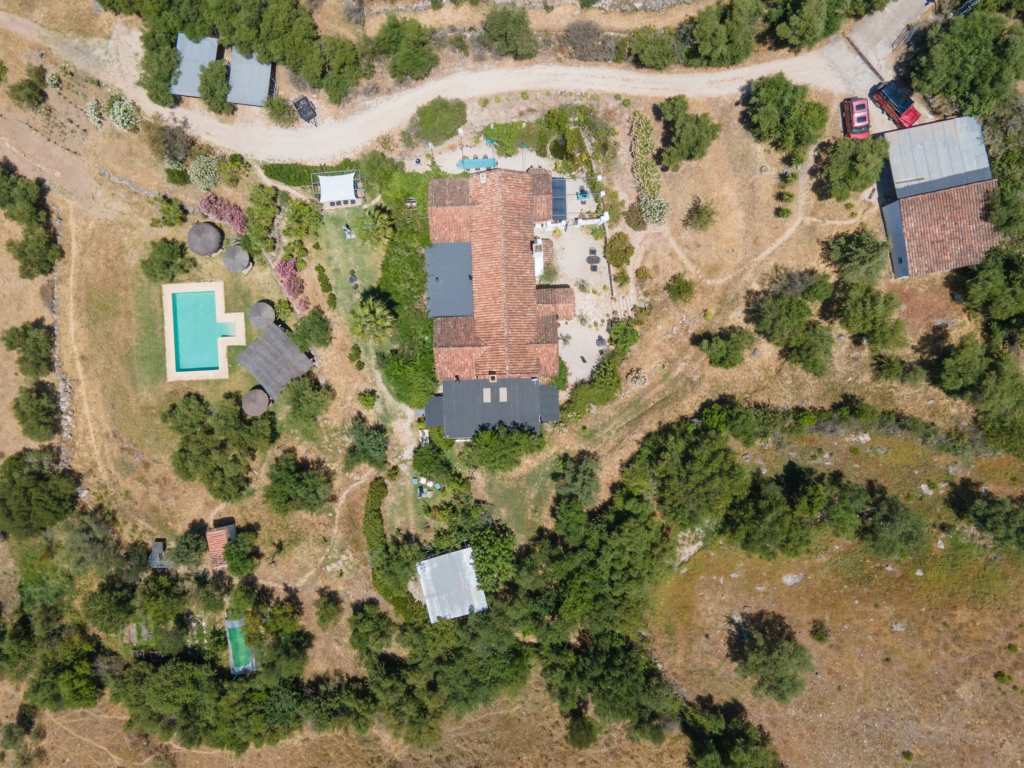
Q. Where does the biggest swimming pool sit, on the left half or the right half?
left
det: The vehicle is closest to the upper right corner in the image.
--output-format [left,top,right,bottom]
[877,81,917,127]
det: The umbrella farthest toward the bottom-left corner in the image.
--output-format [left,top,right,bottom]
[245,389,273,416]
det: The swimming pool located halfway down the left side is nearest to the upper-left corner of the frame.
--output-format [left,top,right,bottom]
[162,281,246,382]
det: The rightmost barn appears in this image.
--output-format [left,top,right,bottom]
[871,115,1006,280]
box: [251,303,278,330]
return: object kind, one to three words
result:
umbrella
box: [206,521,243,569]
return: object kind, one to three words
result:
shed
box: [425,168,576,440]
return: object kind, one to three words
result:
house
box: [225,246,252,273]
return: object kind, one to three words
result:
umbrella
